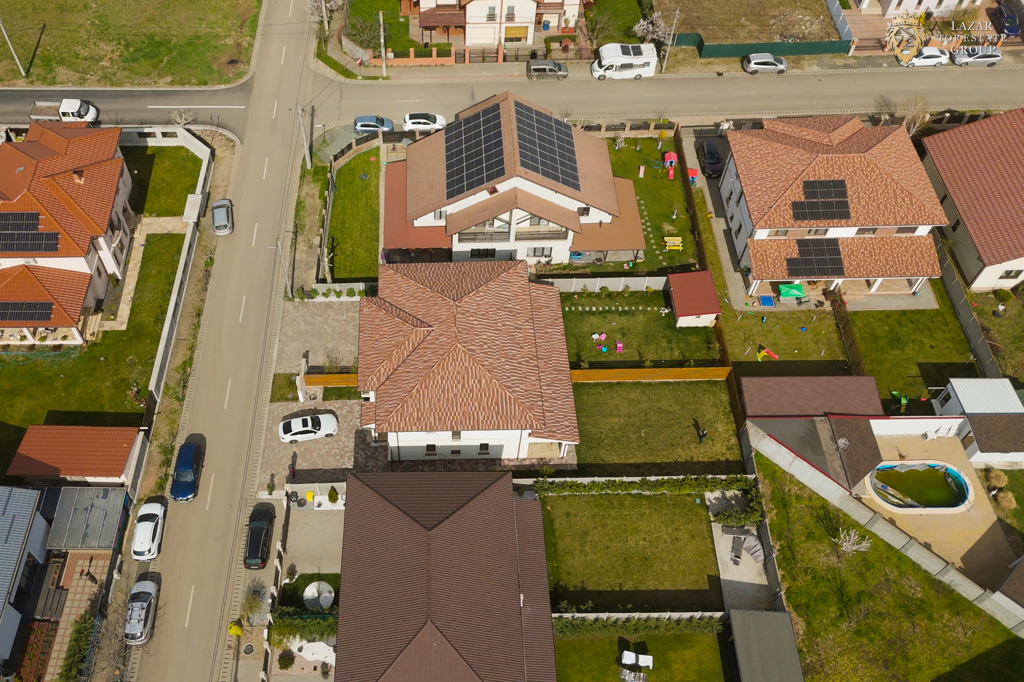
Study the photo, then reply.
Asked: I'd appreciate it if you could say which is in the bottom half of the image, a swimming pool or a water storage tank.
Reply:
swimming pool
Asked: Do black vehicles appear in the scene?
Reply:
Yes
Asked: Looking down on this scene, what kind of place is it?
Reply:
residential area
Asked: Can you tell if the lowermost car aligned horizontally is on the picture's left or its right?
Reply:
left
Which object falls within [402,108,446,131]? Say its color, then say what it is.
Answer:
white car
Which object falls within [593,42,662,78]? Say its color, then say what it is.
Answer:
white camper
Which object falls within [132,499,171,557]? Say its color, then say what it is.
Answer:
white car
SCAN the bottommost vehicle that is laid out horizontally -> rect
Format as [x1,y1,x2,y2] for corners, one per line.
[279,409,342,442]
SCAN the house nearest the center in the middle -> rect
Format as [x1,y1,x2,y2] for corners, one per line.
[356,260,578,465]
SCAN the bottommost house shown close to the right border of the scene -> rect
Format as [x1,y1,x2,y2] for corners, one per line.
[989,553,1024,624]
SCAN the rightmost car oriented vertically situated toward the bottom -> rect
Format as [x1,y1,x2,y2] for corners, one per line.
[244,502,282,566]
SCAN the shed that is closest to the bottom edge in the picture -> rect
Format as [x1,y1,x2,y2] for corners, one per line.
[726,609,805,682]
